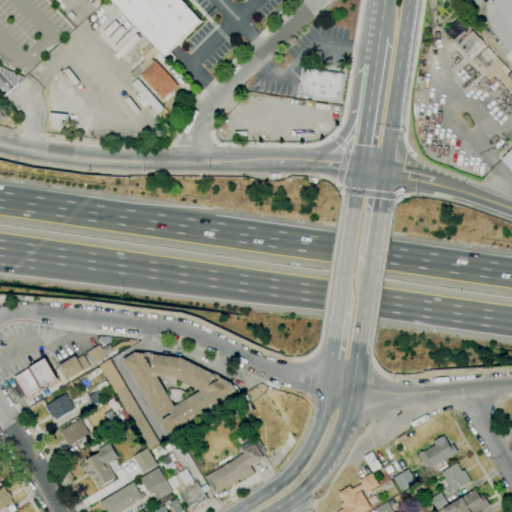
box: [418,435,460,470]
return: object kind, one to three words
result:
house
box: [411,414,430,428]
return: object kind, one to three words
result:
vehicle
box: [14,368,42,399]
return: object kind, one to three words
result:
building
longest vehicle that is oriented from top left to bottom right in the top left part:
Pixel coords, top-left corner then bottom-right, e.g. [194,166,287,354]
[64,67,82,88]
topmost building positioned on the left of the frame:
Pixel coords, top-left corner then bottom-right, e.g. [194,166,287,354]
[112,0,203,56]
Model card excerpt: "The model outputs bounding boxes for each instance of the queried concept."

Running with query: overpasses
[322,200,395,341]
